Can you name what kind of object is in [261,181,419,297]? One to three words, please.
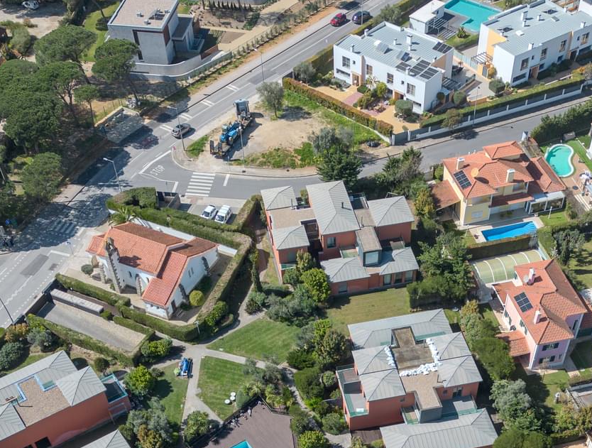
house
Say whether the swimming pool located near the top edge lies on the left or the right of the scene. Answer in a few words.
right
